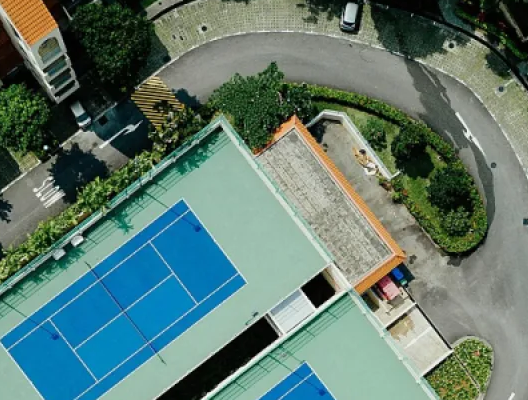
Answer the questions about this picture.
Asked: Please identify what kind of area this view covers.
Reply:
sports ground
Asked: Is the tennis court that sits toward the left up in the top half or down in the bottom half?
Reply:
bottom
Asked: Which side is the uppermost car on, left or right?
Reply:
right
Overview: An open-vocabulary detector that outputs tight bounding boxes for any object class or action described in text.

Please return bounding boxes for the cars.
[67,94,97,134]
[338,0,363,35]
